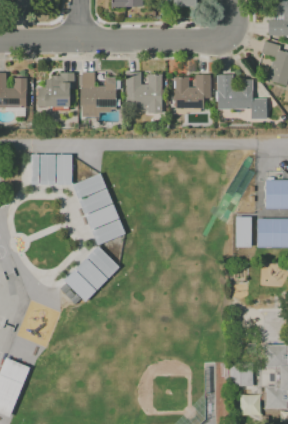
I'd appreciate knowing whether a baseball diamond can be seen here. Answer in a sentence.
Yes, this view includes a baseball diamond.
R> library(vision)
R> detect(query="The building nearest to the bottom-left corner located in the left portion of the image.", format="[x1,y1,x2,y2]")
[0,357,28,418]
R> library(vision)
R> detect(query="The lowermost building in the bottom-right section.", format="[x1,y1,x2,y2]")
[240,396,260,416]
